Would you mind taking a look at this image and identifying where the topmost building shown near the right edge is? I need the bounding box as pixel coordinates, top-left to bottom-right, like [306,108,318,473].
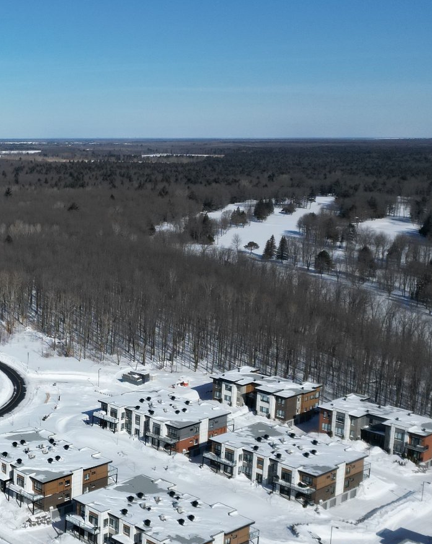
[319,394,432,465]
